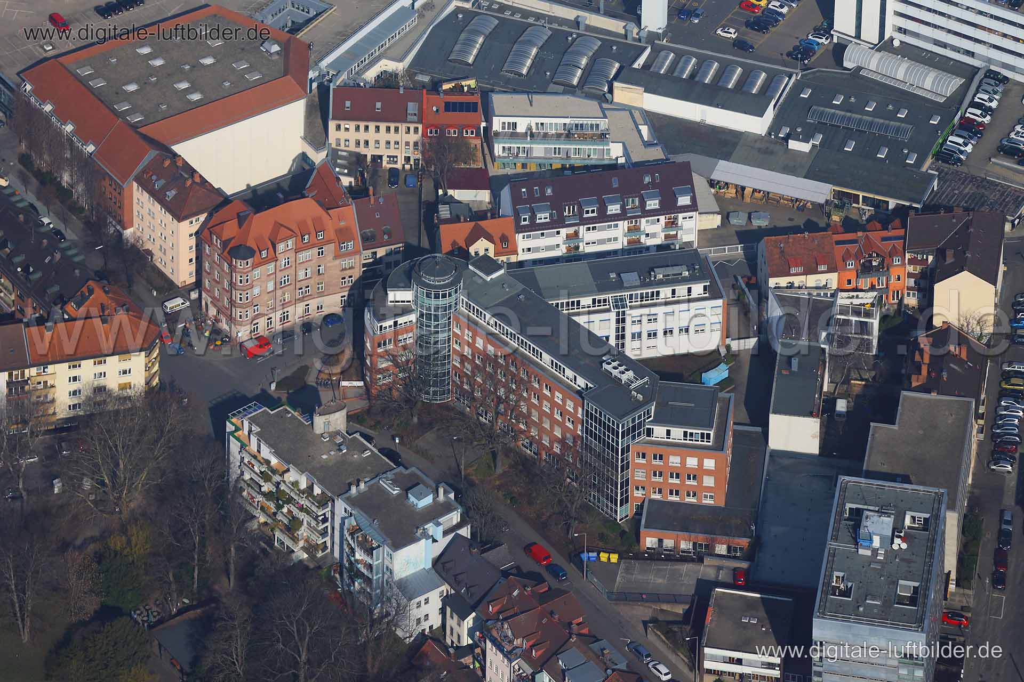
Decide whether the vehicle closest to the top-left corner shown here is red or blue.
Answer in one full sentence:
The vehicle closest to the top-left corner is red.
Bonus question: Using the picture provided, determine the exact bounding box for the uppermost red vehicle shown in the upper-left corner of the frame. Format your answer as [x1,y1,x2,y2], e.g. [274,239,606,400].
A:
[47,8,71,32]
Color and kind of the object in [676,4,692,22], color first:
blue car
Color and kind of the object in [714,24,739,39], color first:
white car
